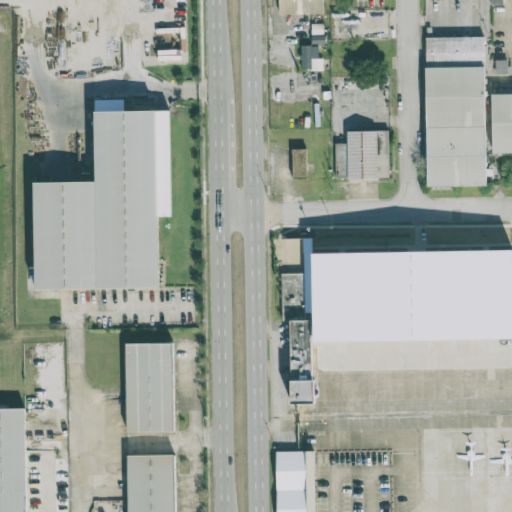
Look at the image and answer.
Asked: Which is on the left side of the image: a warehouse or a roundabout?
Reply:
warehouse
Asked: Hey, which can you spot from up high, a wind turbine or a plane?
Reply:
plane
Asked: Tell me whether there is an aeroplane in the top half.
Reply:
No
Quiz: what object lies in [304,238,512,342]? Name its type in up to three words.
hangar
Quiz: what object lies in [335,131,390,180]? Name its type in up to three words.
building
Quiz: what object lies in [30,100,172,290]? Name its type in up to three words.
warehouse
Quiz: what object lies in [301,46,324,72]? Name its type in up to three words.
house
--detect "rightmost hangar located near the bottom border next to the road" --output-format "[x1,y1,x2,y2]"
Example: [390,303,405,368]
[276,451,316,512]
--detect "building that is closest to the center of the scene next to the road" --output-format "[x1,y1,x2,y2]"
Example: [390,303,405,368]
[274,239,300,265]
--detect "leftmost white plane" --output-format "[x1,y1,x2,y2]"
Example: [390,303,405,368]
[458,442,486,476]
